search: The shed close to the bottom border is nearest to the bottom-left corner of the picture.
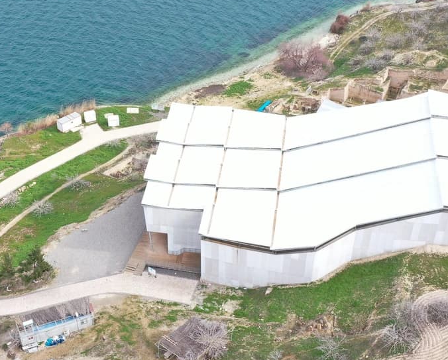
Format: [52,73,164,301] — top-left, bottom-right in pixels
[10,293,93,352]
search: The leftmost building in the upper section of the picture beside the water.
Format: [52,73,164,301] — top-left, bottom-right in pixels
[58,110,82,132]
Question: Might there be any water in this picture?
Yes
